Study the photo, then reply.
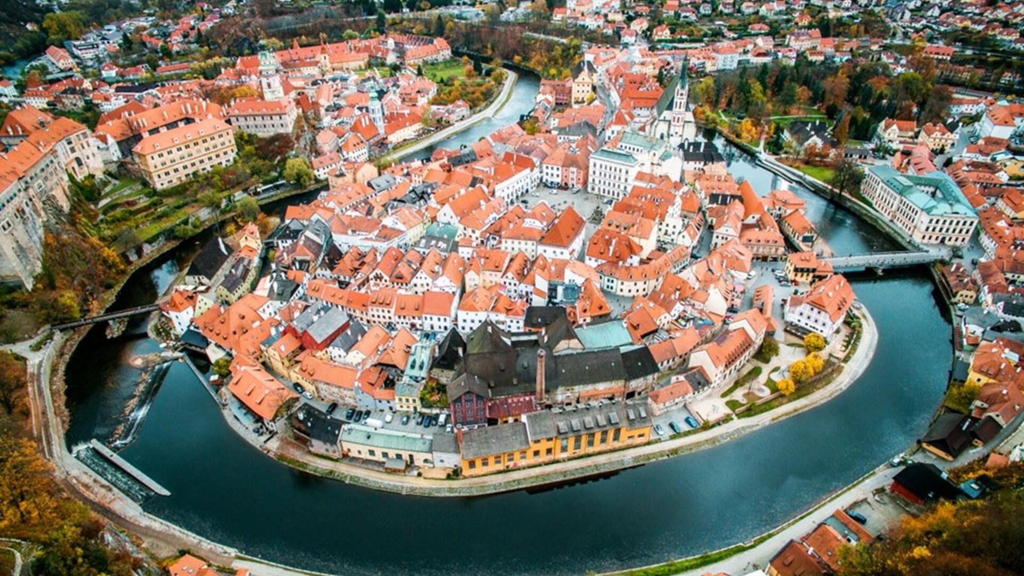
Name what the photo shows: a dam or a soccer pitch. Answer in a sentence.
The image shows a dam.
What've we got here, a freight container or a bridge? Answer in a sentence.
It is a bridge that can be seen here.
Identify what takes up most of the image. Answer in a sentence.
Most of the picture is covered by buildings.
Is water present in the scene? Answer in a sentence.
Yes, the picture does contain water.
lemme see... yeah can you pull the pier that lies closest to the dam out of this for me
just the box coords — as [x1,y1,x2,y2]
[89,438,175,501]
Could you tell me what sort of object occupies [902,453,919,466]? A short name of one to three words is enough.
vehicle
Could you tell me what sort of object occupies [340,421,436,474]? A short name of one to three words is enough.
house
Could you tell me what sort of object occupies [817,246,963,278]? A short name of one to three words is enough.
bridge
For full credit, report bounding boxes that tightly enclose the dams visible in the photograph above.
[112,363,170,449]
